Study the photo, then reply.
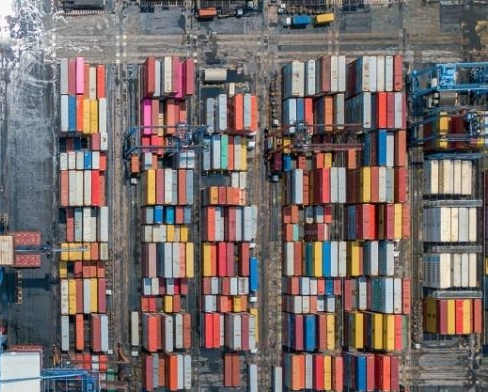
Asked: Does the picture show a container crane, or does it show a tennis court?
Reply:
container crane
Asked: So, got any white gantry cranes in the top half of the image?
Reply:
No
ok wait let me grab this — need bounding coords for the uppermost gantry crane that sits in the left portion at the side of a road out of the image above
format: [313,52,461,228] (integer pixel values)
[127,123,214,159]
